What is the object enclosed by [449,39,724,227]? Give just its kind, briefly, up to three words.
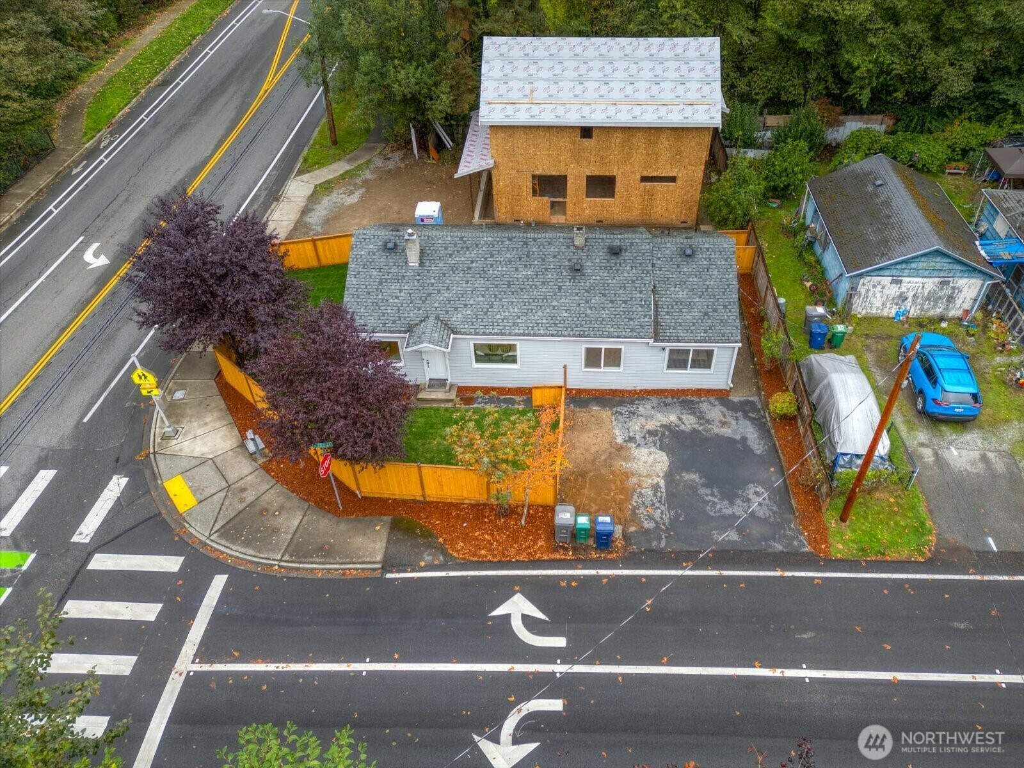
house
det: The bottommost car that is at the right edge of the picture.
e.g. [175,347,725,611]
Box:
[899,334,985,421]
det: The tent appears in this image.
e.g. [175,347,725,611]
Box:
[970,151,1024,187]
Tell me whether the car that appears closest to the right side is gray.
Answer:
No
